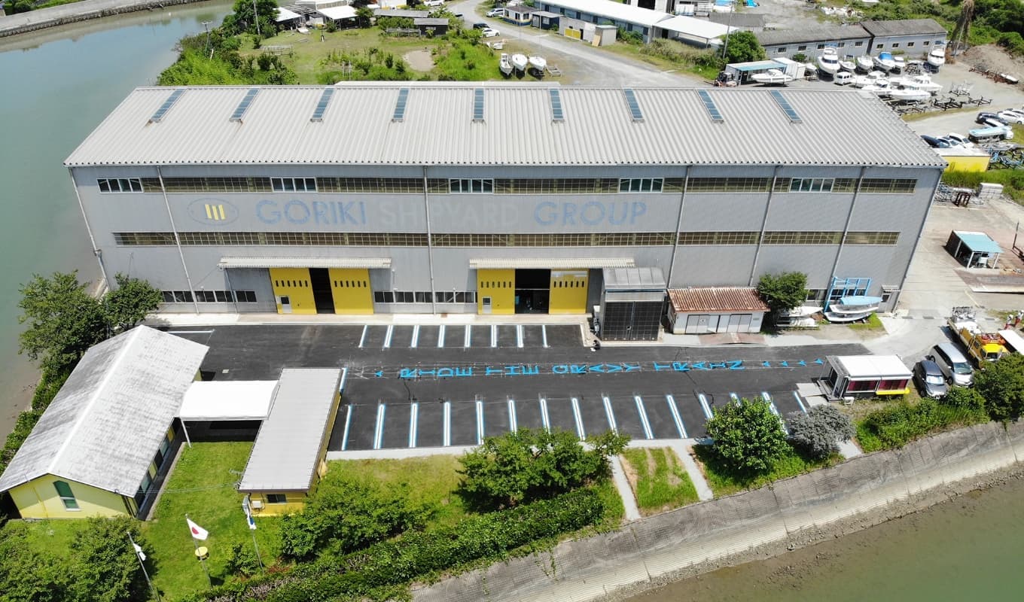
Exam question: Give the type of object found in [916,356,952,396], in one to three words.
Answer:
car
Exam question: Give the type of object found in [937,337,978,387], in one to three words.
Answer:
vehicle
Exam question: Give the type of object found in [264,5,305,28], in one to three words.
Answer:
building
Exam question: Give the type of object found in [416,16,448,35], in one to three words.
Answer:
shed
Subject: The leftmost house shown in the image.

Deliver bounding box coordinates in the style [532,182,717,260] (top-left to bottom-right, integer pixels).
[0,328,219,525]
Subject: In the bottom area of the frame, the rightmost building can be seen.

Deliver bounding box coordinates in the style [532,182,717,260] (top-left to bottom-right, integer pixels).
[812,354,916,404]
